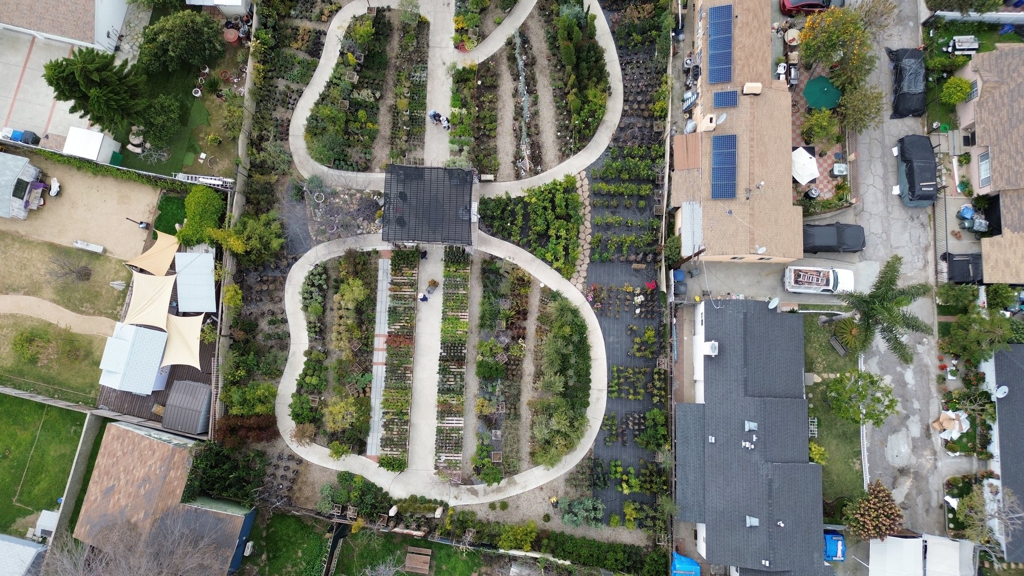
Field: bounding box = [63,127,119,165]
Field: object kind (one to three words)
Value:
shed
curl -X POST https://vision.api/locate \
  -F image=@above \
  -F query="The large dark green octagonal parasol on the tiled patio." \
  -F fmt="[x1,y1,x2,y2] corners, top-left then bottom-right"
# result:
[802,75,840,112]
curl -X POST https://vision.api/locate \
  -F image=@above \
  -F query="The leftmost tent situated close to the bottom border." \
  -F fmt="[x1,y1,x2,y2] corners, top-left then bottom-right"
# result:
[852,530,923,576]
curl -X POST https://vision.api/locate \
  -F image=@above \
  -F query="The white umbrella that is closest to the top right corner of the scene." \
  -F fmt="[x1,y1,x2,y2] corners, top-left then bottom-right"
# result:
[793,152,819,182]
